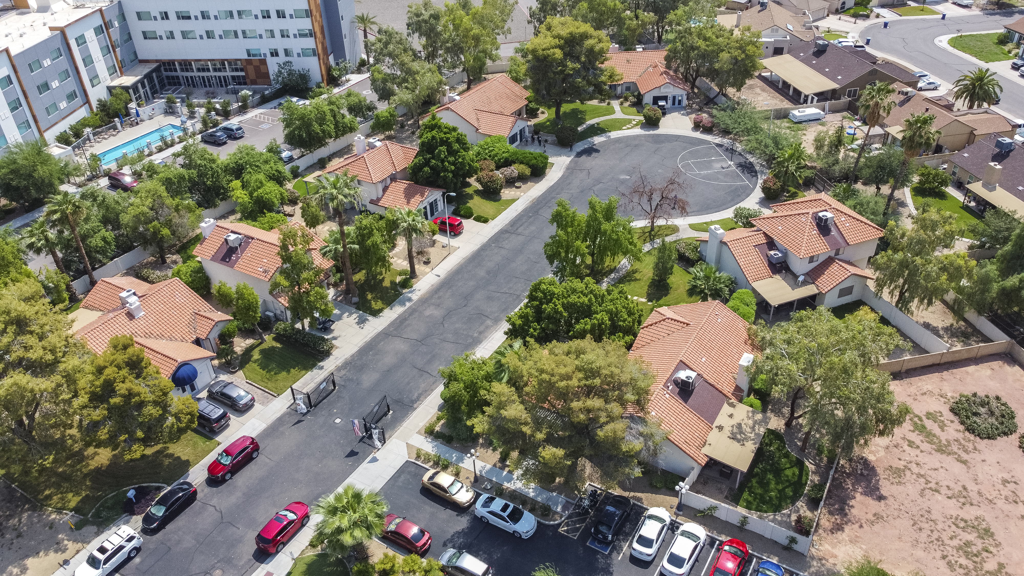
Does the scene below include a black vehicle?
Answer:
Yes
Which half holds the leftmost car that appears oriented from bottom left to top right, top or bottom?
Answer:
bottom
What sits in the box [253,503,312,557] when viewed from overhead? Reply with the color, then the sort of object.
red car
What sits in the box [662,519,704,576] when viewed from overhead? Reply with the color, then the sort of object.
white car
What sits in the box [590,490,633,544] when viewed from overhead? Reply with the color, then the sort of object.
black car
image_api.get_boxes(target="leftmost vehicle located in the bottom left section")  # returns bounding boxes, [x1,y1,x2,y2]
[70,528,142,576]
